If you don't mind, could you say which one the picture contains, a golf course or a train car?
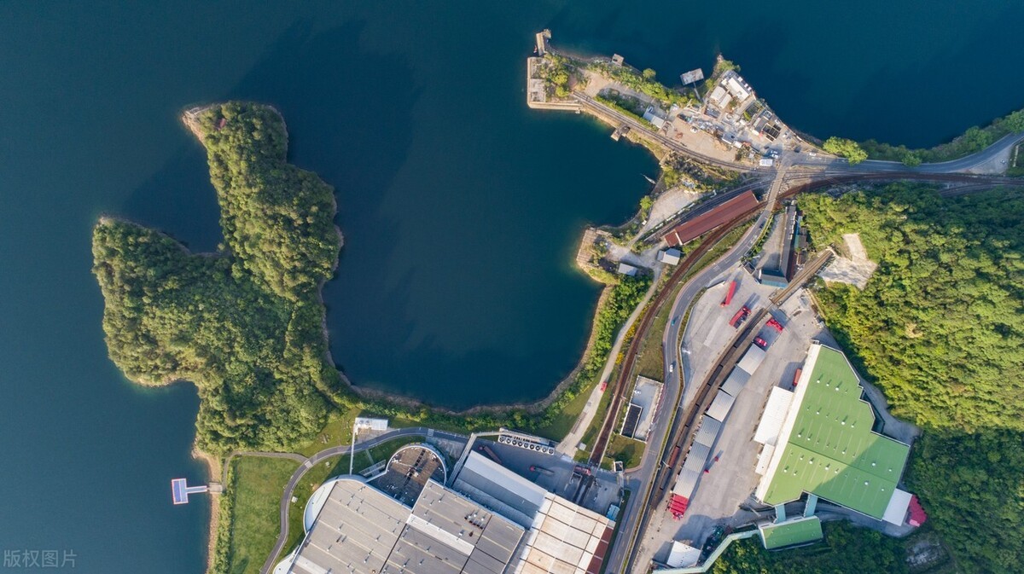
train car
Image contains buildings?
Yes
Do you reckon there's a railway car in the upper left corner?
No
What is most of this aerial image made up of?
water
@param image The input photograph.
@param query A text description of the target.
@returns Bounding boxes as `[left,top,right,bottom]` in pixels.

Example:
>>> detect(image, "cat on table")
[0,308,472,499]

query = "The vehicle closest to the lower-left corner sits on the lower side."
[480,443,502,464]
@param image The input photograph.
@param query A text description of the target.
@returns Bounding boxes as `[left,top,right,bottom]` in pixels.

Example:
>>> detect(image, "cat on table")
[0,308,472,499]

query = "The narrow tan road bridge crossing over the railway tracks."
[761,155,794,217]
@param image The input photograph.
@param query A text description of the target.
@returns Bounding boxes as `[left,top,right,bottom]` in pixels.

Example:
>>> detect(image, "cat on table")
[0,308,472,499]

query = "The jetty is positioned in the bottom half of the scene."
[171,478,208,505]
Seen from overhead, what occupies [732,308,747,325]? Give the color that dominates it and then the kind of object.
red vehicle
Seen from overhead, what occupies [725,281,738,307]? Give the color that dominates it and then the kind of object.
red vehicle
